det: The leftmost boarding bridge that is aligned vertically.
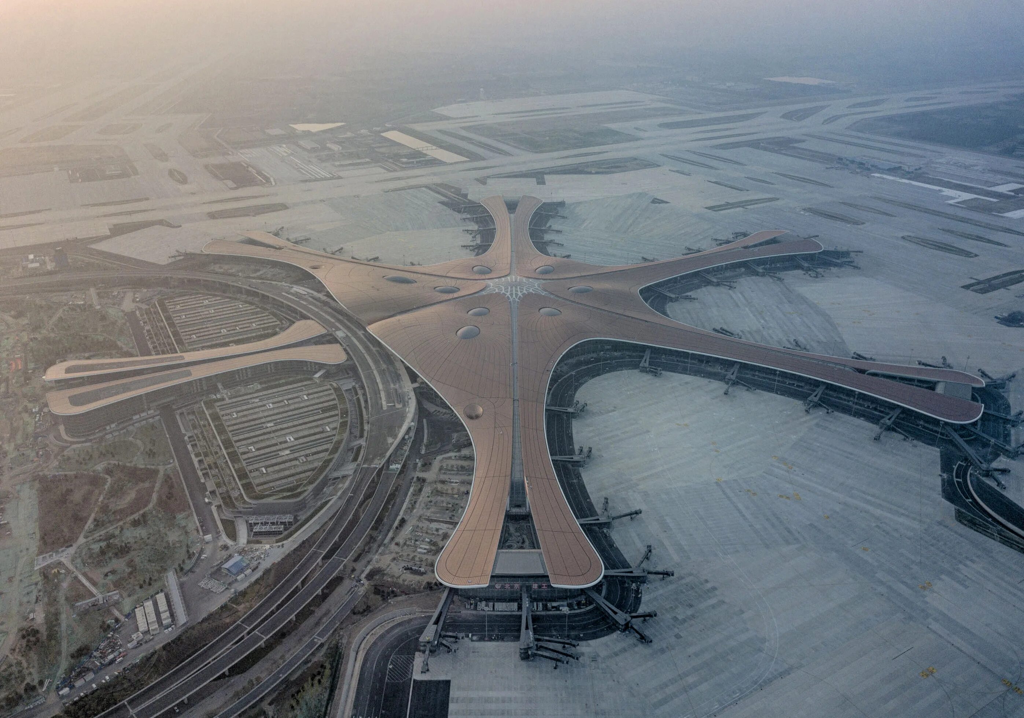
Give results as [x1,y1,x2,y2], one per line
[421,588,469,678]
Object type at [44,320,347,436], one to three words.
building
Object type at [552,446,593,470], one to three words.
jet bridge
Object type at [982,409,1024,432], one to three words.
jet bridge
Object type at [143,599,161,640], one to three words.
building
